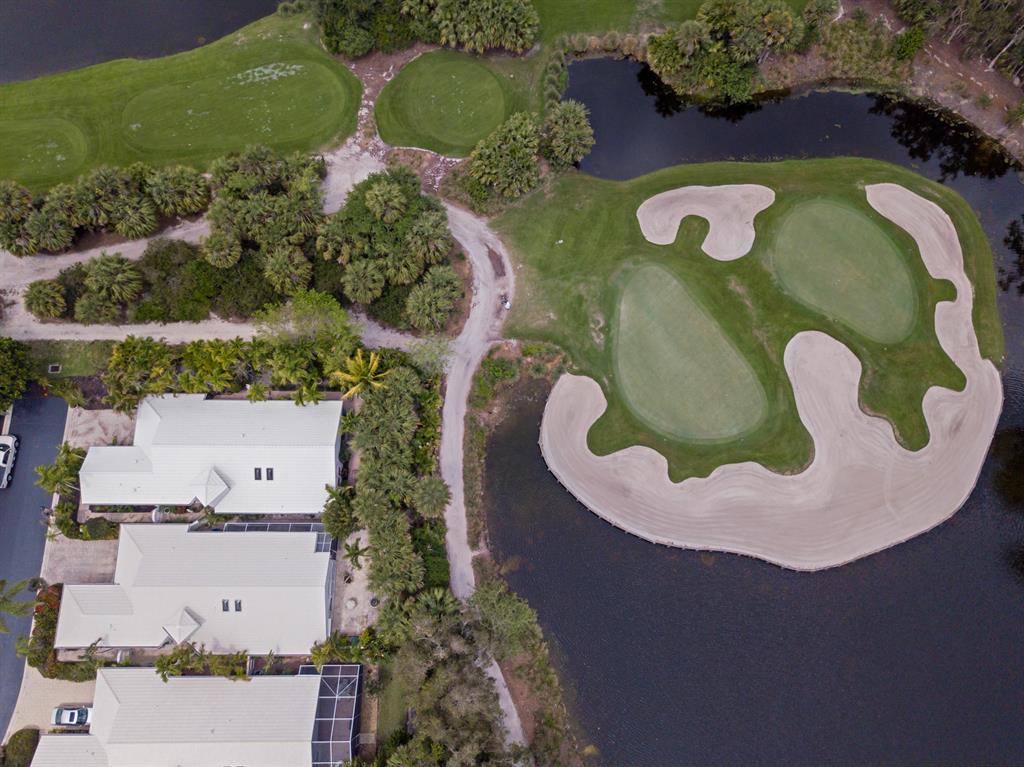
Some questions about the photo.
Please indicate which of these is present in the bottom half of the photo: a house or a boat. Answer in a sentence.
There is a house in the bottom half of the photo.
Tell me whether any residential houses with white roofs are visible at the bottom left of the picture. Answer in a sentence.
Yes, at the bottom left of the picture there is a residential house with a white roof.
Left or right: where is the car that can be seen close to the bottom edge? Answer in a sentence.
The car that can be seen close to the bottom edge sits on the left side.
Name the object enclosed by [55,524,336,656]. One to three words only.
house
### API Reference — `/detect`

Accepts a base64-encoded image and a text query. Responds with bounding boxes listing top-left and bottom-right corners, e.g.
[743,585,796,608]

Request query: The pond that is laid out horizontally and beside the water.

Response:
[0,0,291,86]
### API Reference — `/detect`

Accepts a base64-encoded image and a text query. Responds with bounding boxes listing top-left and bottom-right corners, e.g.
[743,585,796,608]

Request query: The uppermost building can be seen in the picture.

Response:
[80,396,346,515]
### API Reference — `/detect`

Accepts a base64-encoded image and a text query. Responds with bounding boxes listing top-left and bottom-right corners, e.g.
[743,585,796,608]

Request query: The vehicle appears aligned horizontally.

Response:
[49,708,93,730]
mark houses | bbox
[80,396,346,515]
[28,667,322,767]
[55,524,336,656]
